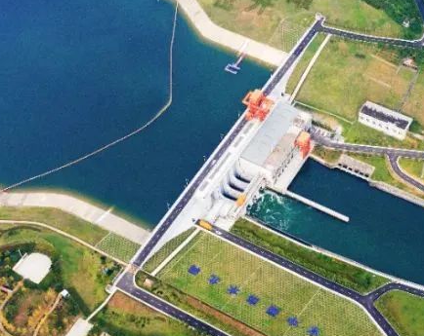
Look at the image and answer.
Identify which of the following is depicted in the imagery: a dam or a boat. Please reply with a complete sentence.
The image shows a dam.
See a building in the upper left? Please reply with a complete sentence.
No, looking in the upper left, there is no building.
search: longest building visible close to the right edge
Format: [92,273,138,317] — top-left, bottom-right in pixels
[359,100,414,138]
